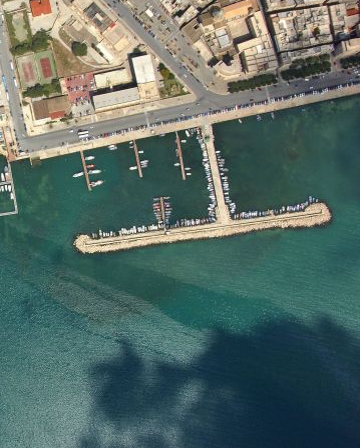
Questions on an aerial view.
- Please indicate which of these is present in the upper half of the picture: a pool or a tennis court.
tennis court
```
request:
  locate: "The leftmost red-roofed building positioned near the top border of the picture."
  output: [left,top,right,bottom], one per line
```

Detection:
[30,0,53,19]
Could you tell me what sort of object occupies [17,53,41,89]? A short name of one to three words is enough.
tennis court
